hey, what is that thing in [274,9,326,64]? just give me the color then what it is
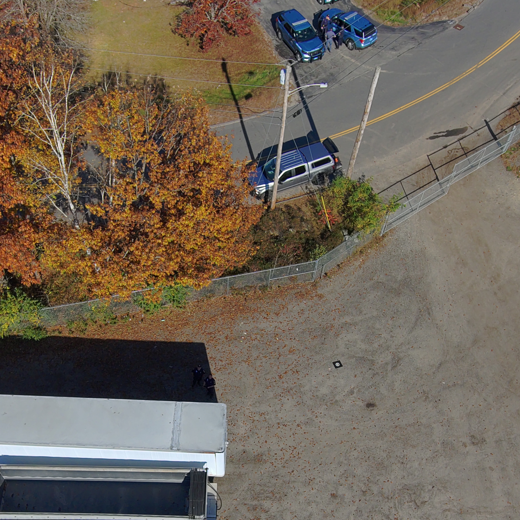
blue car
